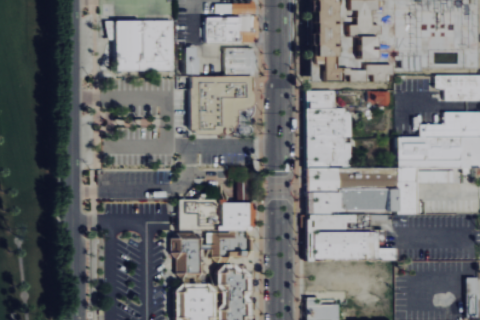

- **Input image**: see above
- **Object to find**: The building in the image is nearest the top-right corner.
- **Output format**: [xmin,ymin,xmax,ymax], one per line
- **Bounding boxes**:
[431,75,480,102]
